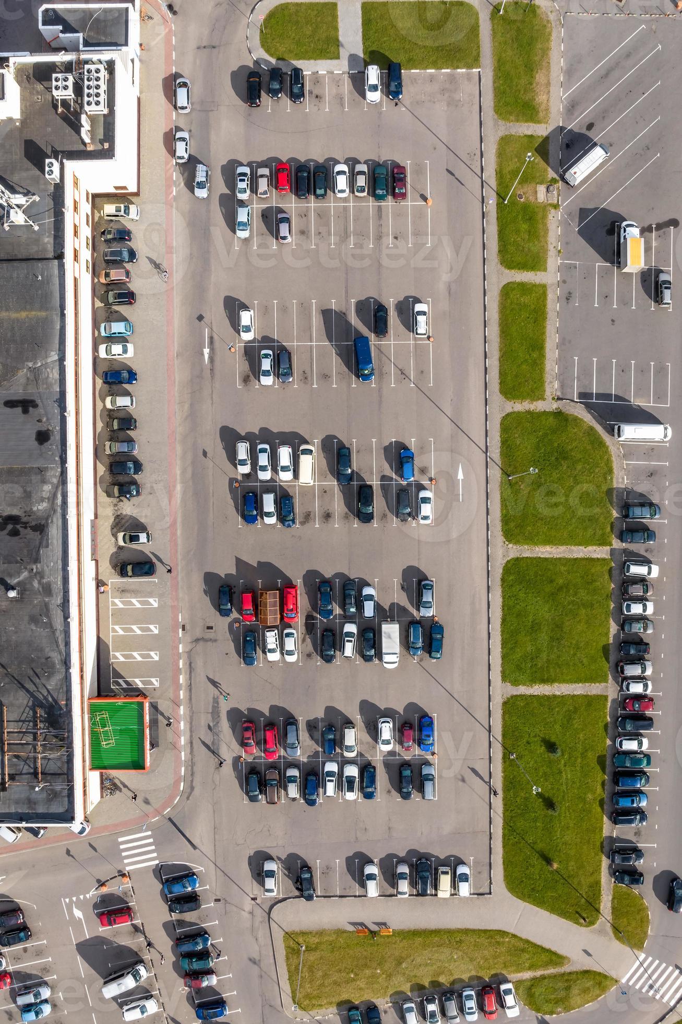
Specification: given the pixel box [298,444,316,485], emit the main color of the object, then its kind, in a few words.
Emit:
white vehicle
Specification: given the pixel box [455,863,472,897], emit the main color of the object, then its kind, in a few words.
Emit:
white car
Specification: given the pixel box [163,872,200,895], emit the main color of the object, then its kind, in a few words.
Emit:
blue car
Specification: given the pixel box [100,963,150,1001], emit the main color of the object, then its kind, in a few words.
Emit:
white van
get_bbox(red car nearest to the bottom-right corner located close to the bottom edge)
[480,984,500,1020]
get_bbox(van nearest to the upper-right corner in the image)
[565,145,608,186]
